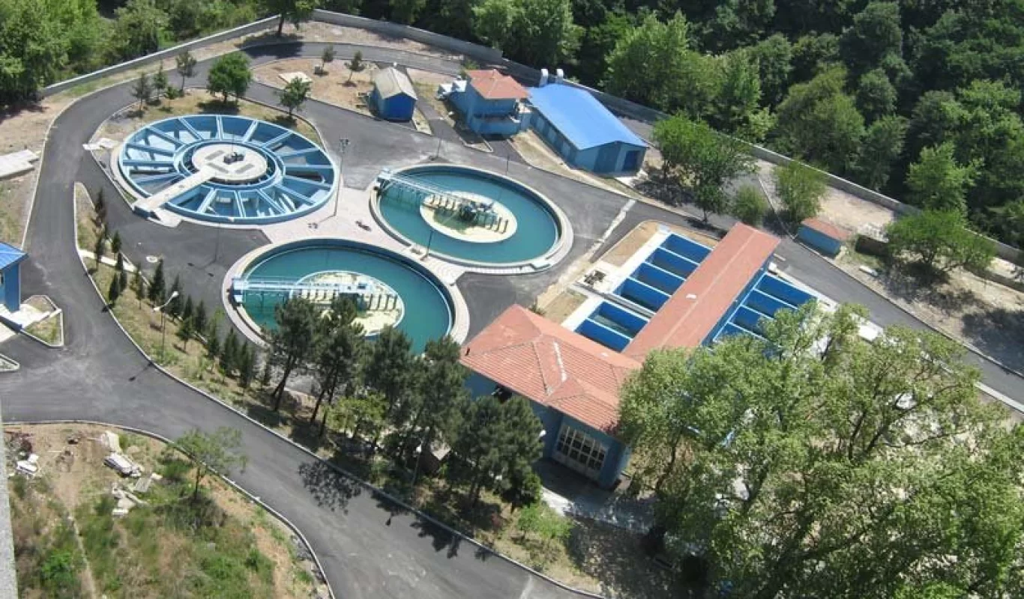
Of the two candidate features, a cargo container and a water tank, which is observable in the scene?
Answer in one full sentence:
Visible in the photo is a water tank.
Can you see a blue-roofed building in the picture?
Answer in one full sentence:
Yes, a blue-roofed building is visible in the scene.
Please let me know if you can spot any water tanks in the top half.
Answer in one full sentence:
Yes, a water tank appears in the top half.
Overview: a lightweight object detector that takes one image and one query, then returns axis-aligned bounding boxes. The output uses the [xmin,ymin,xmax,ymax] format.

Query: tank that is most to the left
[111,115,336,231]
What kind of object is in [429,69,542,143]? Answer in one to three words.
building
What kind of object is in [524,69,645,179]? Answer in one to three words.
building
